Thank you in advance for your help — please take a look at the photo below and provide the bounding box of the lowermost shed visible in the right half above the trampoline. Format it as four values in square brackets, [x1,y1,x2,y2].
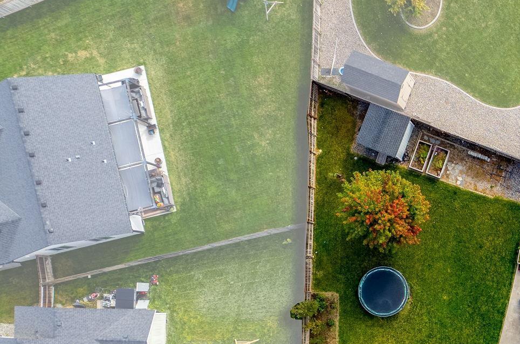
[357,104,415,163]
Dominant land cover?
grass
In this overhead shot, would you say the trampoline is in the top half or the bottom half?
bottom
